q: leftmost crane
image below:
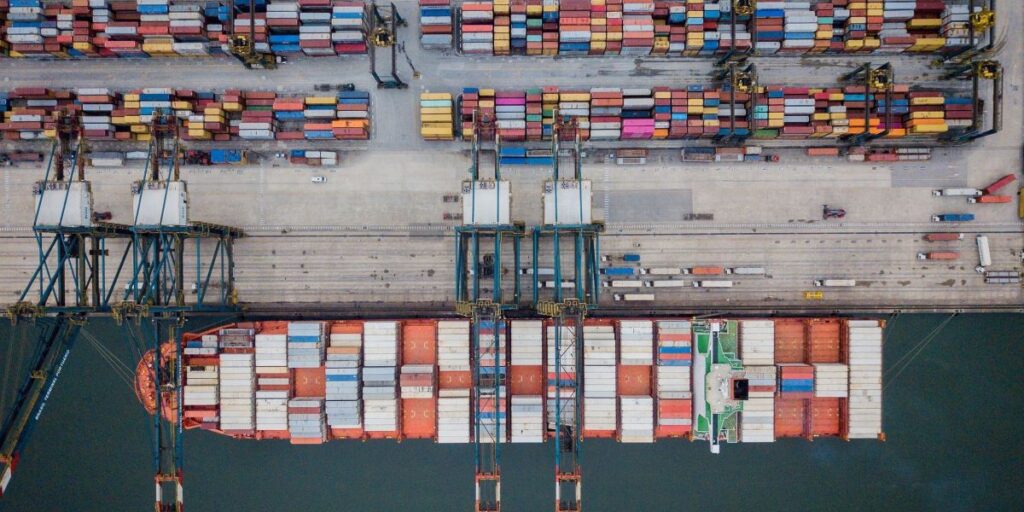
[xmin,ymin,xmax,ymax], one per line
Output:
[0,116,171,497]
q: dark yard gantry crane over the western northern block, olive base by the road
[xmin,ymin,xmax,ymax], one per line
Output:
[227,0,275,70]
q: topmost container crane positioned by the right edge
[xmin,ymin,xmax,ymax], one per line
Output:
[934,0,997,70]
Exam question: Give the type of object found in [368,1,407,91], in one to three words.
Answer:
container crane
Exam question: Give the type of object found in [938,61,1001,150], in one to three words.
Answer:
container crane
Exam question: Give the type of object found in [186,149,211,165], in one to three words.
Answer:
work vehicle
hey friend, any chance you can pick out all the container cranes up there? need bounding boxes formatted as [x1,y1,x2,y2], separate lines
[712,64,758,150]
[368,1,407,91]
[454,116,532,512]
[837,64,893,150]
[938,61,1001,150]
[227,0,275,70]
[0,116,171,497]
[934,0,997,70]
[112,116,257,512]
[522,116,612,512]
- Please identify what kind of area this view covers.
port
